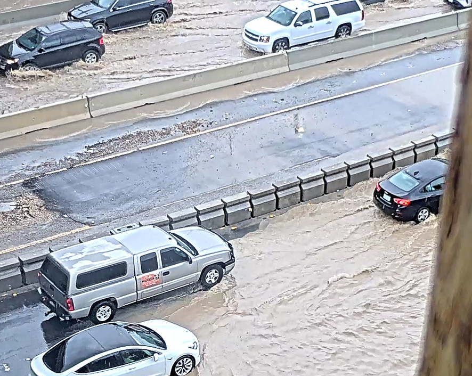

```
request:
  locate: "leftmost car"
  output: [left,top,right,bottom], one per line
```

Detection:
[0,19,109,73]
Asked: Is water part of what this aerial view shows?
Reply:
Yes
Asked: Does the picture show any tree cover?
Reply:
No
